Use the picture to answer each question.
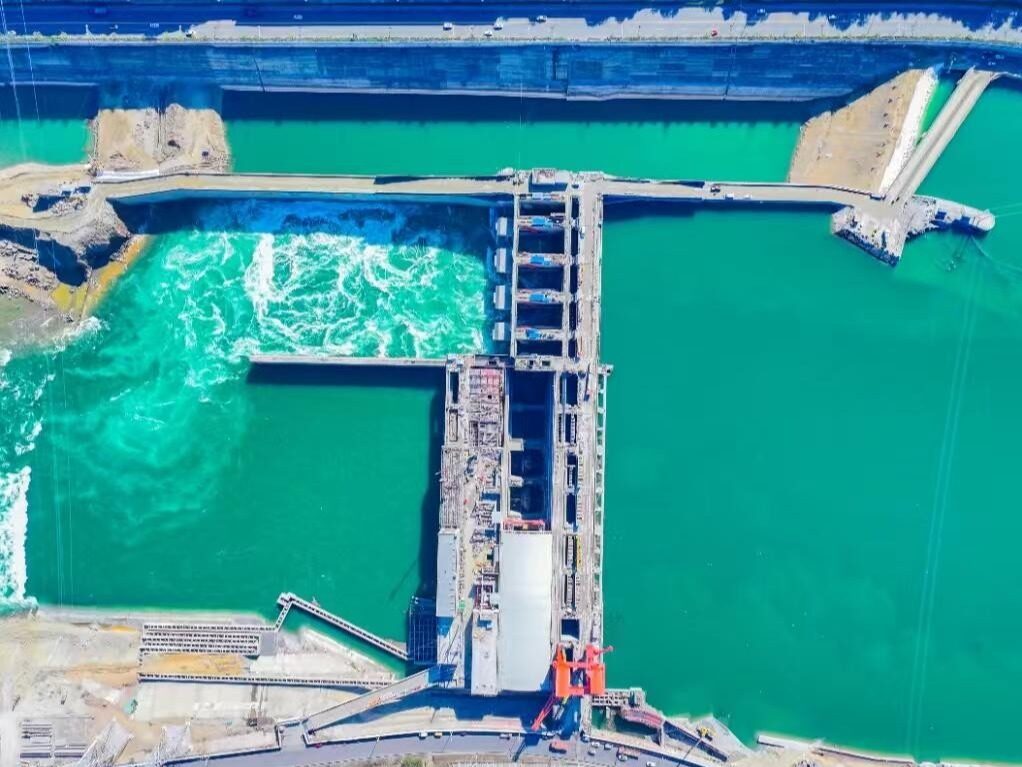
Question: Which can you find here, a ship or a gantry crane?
gantry crane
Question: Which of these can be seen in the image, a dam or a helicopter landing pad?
dam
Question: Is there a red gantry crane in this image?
Yes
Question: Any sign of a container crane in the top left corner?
No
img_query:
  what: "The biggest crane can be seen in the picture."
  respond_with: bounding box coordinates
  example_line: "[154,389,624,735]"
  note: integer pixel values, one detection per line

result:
[532,636,613,731]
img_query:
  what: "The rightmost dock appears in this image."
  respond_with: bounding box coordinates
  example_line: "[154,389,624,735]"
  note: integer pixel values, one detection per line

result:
[914,198,994,233]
